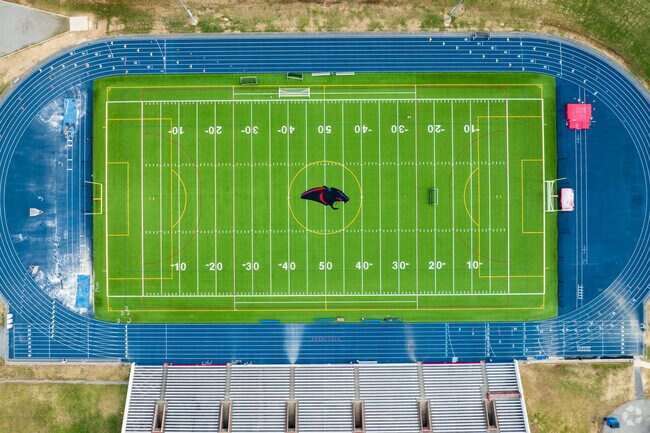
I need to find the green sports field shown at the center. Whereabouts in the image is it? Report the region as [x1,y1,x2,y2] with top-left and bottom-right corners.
[91,70,559,324]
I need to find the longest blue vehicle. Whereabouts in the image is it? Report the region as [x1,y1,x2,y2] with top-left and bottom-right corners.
[605,416,622,430]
